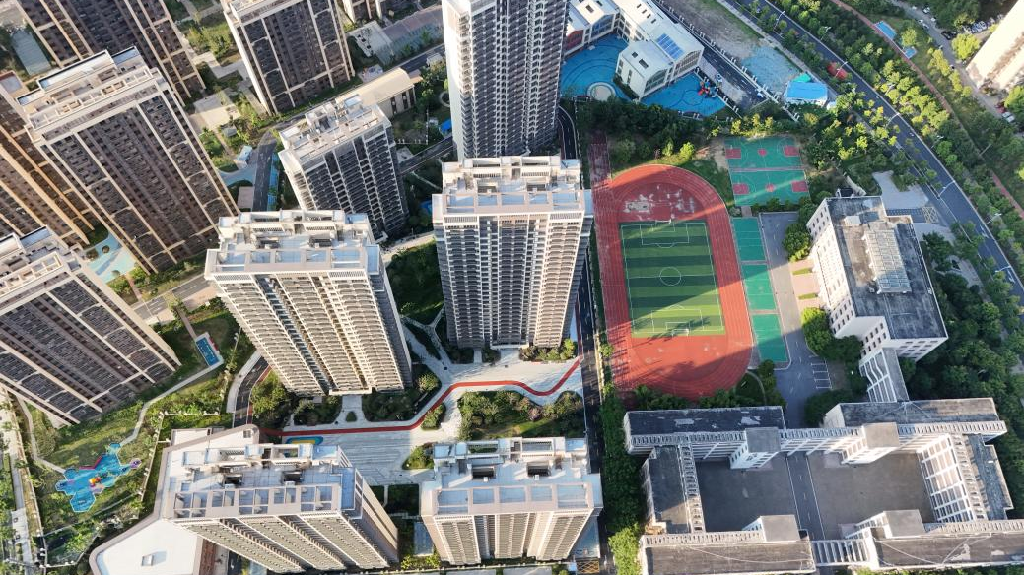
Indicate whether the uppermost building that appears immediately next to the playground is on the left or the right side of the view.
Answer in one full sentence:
The uppermost building that appears immediately next to the playground appears in the left half of the scene.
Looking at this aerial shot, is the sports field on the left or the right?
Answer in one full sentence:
The sports field is on the right side of the image.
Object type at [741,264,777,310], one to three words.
sports court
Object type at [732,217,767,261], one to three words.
sports court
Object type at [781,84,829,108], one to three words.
shed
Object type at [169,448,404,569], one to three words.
building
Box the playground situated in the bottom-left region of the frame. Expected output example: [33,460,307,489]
[57,443,128,512]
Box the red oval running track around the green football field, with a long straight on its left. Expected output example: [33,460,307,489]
[581,134,753,410]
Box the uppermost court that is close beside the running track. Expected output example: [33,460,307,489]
[724,136,805,169]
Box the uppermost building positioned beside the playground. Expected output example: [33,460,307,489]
[0,223,183,423]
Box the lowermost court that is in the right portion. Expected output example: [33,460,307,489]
[751,314,789,363]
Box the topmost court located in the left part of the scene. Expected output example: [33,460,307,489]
[193,334,223,365]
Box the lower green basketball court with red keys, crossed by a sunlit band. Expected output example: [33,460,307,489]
[729,169,812,205]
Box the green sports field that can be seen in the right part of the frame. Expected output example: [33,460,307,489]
[618,220,727,336]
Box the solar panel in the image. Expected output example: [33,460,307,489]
[658,32,684,56]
